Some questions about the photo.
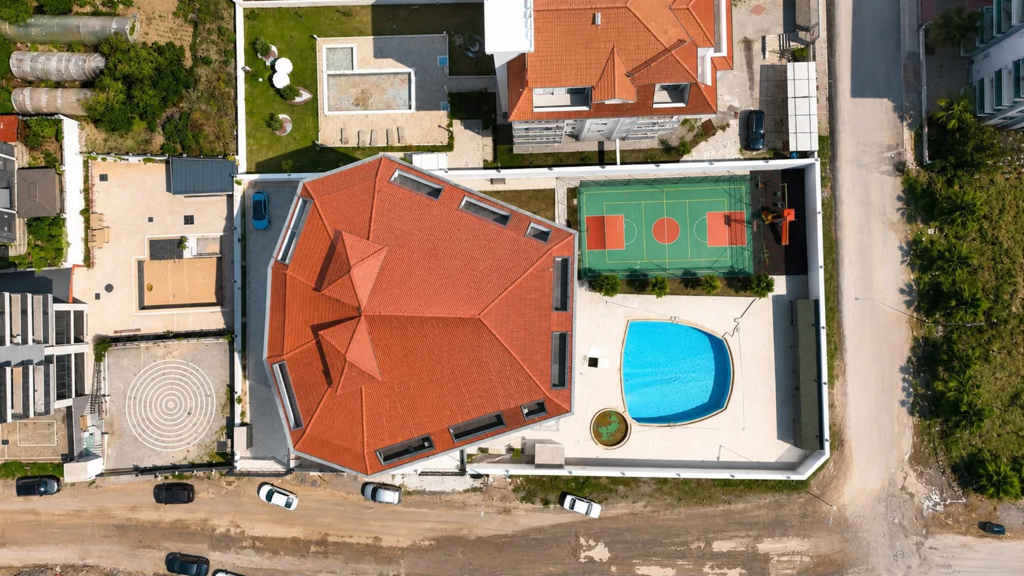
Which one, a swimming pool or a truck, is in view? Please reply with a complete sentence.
Looking from above, you can make out a swimming pool.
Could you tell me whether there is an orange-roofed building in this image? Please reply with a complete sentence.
Yes, an orange-roofed building appears in the view.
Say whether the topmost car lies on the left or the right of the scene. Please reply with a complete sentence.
It is on the right.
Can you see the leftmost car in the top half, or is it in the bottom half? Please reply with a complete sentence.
The bottom half of the photo is where the leftmost car is.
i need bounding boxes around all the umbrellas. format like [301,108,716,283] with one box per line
[272,72,291,89]
[274,57,293,76]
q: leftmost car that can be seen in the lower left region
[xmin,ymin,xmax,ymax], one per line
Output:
[14,475,64,498]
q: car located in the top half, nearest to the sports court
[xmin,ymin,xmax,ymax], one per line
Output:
[745,108,767,152]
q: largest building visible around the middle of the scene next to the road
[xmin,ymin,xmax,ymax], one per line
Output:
[264,154,578,477]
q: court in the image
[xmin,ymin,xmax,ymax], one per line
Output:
[580,174,753,279]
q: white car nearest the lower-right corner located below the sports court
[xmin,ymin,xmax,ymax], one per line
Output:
[562,492,602,518]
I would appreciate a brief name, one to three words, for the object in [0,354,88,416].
house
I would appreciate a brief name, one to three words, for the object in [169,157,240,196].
shed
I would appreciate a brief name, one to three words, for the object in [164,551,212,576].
car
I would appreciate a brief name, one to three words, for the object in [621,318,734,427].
swimming pool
